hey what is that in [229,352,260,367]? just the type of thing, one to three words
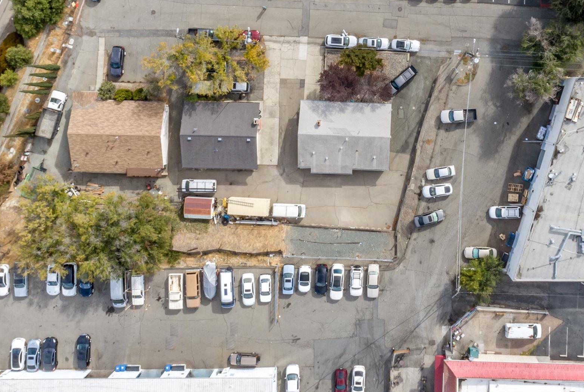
car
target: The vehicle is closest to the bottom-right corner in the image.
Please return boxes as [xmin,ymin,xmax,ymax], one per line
[504,324,541,339]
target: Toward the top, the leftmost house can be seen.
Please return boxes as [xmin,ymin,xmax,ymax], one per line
[66,92,168,177]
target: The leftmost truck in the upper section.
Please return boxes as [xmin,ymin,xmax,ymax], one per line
[30,90,66,143]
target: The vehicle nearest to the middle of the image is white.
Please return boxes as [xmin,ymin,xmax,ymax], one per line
[272,204,306,220]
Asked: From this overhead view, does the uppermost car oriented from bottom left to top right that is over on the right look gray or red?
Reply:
gray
